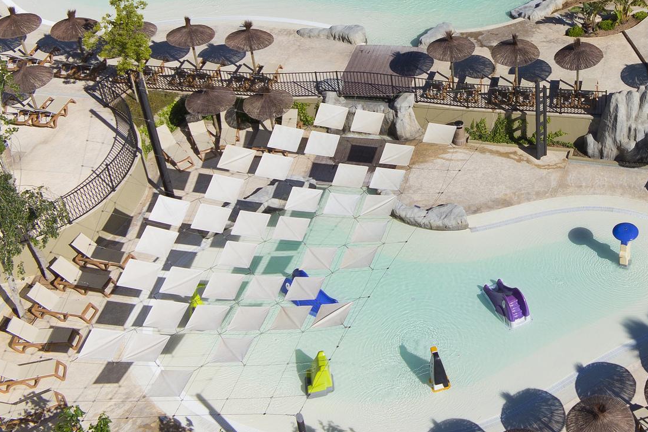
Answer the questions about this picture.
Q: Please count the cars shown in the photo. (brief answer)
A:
zero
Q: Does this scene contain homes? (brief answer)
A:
No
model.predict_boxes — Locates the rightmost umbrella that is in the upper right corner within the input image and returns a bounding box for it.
[551,33,602,92]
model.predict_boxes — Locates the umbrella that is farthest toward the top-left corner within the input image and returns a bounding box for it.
[0,6,41,63]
